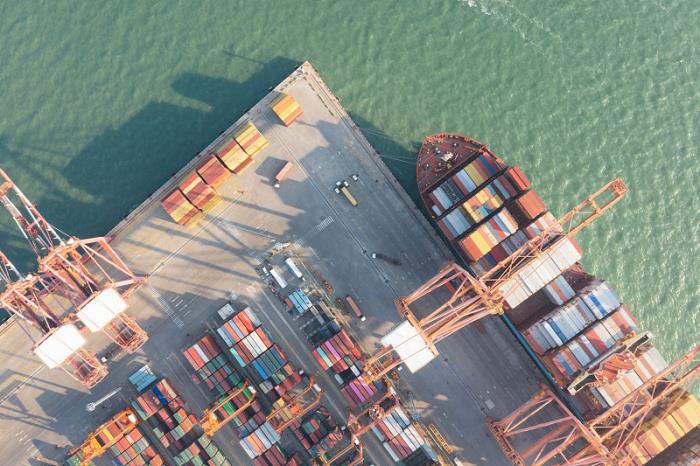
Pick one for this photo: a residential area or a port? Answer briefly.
port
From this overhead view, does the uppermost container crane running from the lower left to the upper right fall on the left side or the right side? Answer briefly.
right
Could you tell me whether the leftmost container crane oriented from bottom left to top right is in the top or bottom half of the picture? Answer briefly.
bottom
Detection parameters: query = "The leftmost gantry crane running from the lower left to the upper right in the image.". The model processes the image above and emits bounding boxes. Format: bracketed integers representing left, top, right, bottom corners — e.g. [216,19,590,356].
[68,402,147,466]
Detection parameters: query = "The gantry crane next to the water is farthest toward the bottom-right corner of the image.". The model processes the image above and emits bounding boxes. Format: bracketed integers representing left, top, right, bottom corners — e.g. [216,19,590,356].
[486,339,700,466]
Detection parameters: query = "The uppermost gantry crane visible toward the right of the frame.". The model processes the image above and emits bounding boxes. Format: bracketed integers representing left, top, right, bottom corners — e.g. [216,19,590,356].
[353,176,628,383]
